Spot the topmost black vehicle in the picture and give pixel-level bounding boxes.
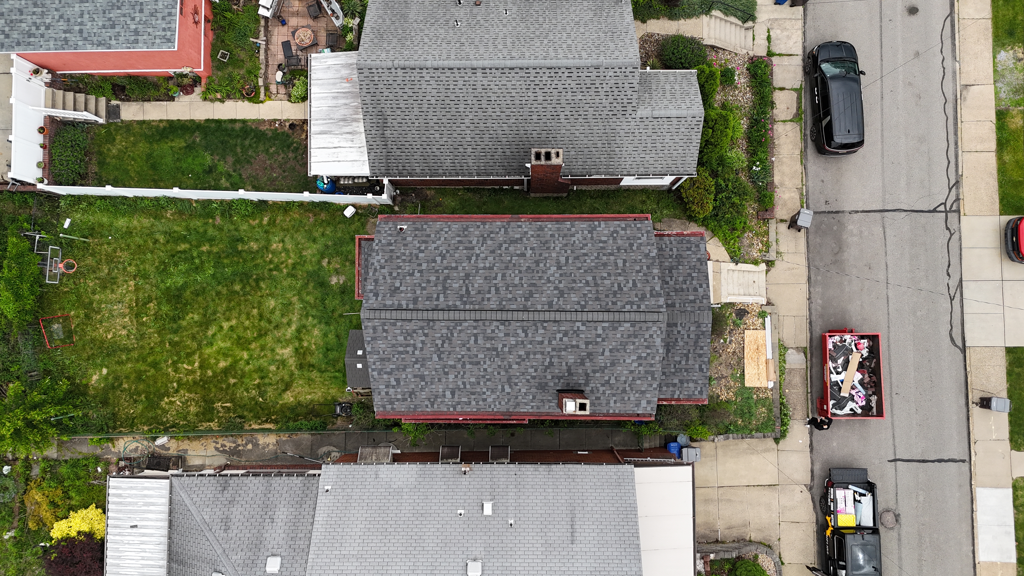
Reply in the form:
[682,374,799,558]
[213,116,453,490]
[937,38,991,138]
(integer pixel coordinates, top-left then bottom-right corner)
[806,41,867,157]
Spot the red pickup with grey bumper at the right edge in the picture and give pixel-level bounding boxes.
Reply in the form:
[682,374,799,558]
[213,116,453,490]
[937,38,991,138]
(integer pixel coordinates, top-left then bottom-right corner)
[1003,217,1024,263]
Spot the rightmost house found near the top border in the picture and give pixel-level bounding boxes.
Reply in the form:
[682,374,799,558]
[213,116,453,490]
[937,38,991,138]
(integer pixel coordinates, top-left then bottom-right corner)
[306,0,704,199]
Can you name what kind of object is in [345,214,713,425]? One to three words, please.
house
